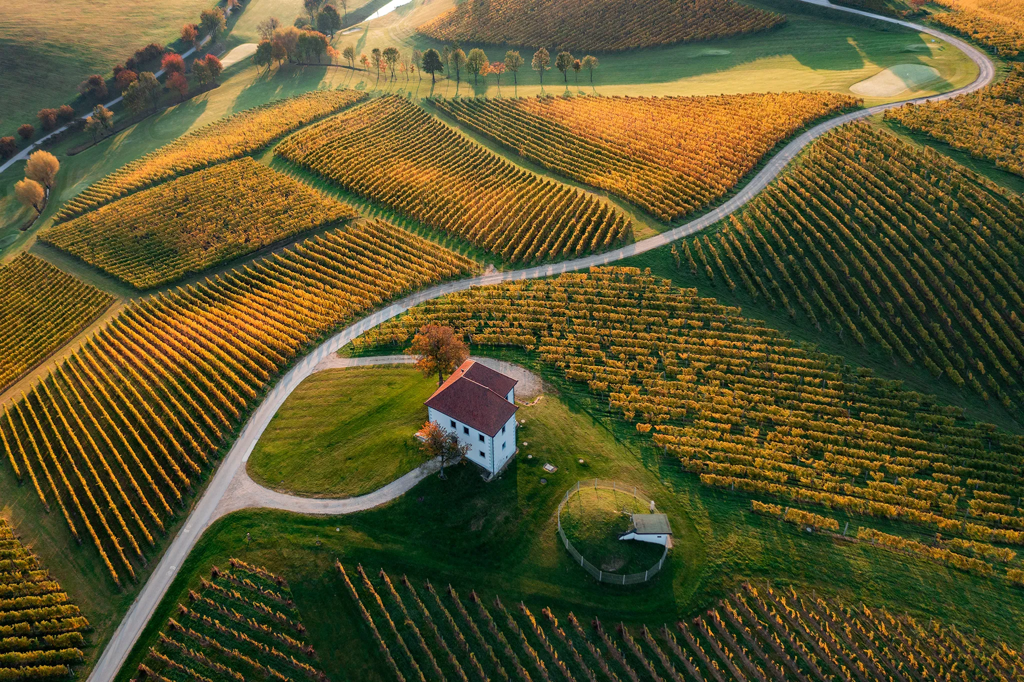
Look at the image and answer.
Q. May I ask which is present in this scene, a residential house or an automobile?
residential house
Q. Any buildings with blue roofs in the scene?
No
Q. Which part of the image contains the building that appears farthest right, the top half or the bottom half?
bottom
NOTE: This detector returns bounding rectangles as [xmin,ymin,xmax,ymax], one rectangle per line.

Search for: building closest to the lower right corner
[620,514,671,543]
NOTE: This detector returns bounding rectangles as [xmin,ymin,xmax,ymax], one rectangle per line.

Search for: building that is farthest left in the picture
[422,358,524,478]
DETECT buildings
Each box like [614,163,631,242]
[620,514,671,543]
[422,358,524,478]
